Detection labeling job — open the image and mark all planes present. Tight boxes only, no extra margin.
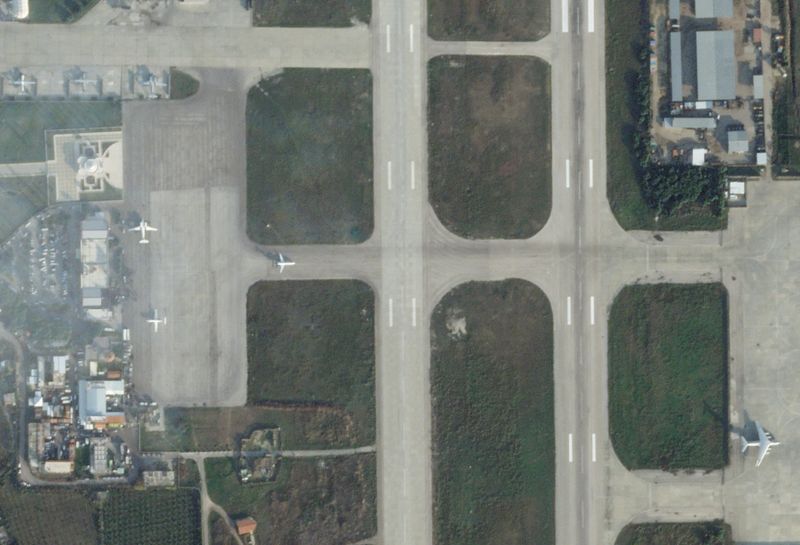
[148,309,163,333]
[742,421,780,466]
[129,219,157,243]
[141,76,164,98]
[12,75,34,94]
[272,254,295,273]
[73,73,96,96]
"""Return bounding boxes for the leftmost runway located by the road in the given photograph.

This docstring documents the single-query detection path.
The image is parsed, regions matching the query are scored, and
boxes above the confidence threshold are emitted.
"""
[372,0,431,545]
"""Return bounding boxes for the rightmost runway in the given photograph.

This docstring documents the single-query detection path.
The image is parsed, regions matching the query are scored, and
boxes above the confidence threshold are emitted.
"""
[551,0,610,545]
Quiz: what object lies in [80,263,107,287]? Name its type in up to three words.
building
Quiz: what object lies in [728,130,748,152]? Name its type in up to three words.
building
